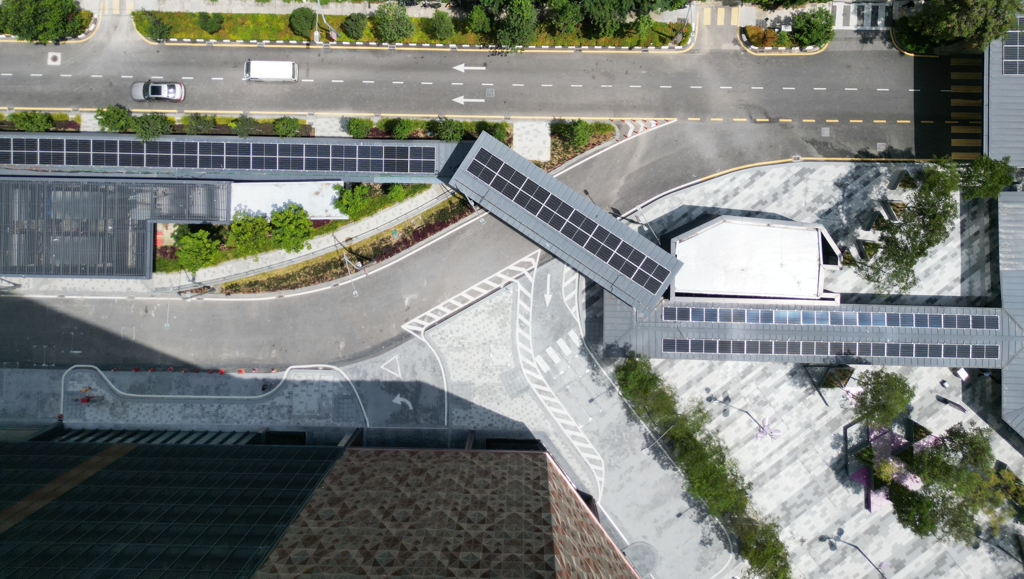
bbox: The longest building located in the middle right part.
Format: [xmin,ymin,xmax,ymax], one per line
[660,213,843,307]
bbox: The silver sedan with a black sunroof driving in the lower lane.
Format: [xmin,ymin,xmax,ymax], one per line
[128,78,185,103]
